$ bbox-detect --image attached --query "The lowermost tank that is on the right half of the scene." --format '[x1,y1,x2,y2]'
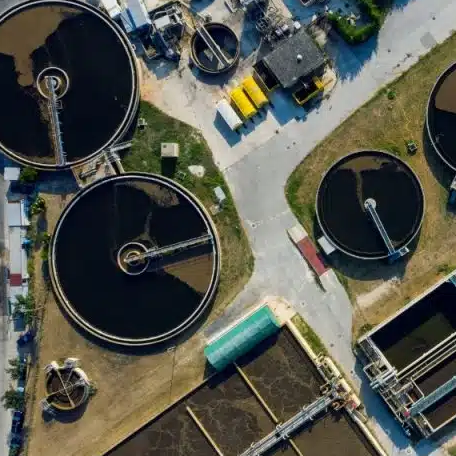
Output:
[316,150,424,259]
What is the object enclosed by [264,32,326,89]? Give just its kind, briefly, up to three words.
building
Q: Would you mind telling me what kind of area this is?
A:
industrial area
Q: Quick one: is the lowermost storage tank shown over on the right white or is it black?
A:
black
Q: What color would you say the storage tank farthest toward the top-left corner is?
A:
black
